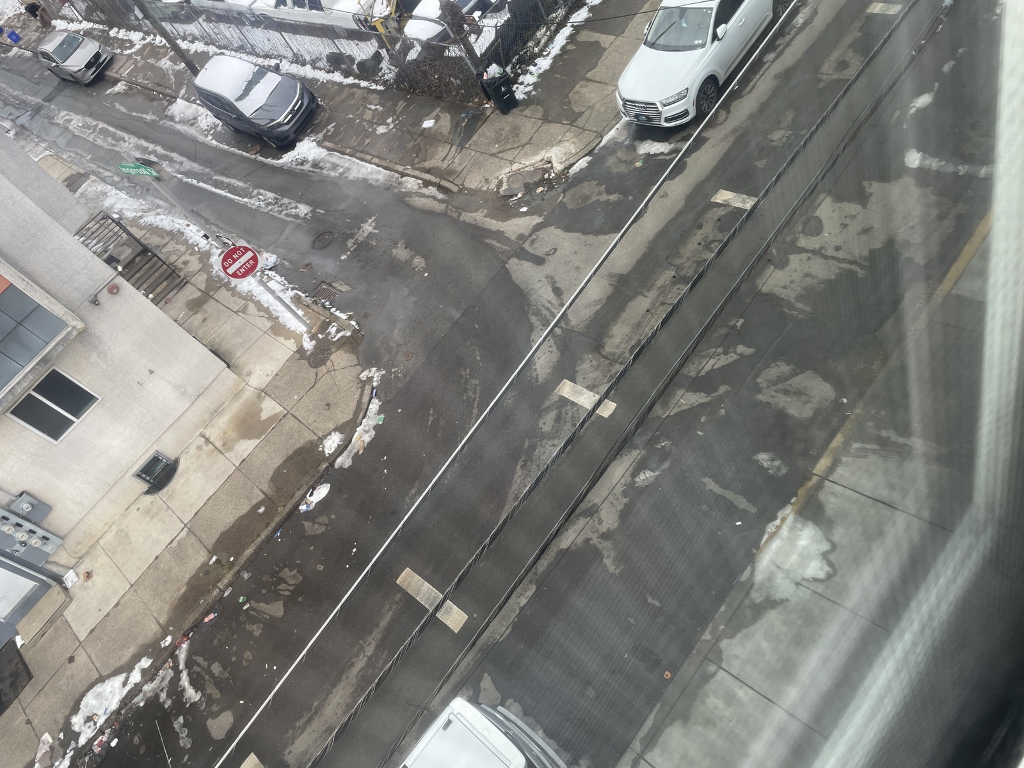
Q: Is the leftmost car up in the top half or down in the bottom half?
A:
top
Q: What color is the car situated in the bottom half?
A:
white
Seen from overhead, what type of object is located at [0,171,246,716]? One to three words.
building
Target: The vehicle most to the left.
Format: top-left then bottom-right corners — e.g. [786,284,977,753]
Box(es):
[38,28,114,89]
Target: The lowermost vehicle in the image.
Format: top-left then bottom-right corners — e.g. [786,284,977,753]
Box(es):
[392,695,566,768]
